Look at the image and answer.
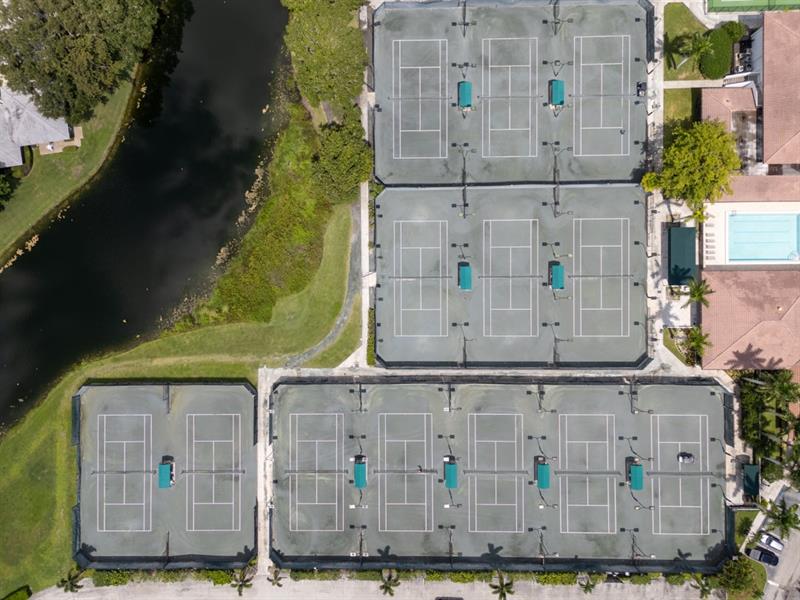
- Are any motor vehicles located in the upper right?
No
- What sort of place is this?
sports ground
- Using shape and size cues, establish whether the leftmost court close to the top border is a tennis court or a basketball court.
tennis court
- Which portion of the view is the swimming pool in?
right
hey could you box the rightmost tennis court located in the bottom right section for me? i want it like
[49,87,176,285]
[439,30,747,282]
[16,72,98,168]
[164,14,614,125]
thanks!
[633,386,727,566]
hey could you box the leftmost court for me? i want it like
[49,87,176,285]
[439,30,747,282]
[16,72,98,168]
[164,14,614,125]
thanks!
[80,386,168,562]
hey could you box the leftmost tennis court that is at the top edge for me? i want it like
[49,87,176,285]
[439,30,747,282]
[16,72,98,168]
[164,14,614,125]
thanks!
[376,8,464,186]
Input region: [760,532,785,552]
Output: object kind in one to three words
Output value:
car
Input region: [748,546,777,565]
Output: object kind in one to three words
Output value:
vehicle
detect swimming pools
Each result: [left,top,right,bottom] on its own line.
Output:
[726,210,800,266]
